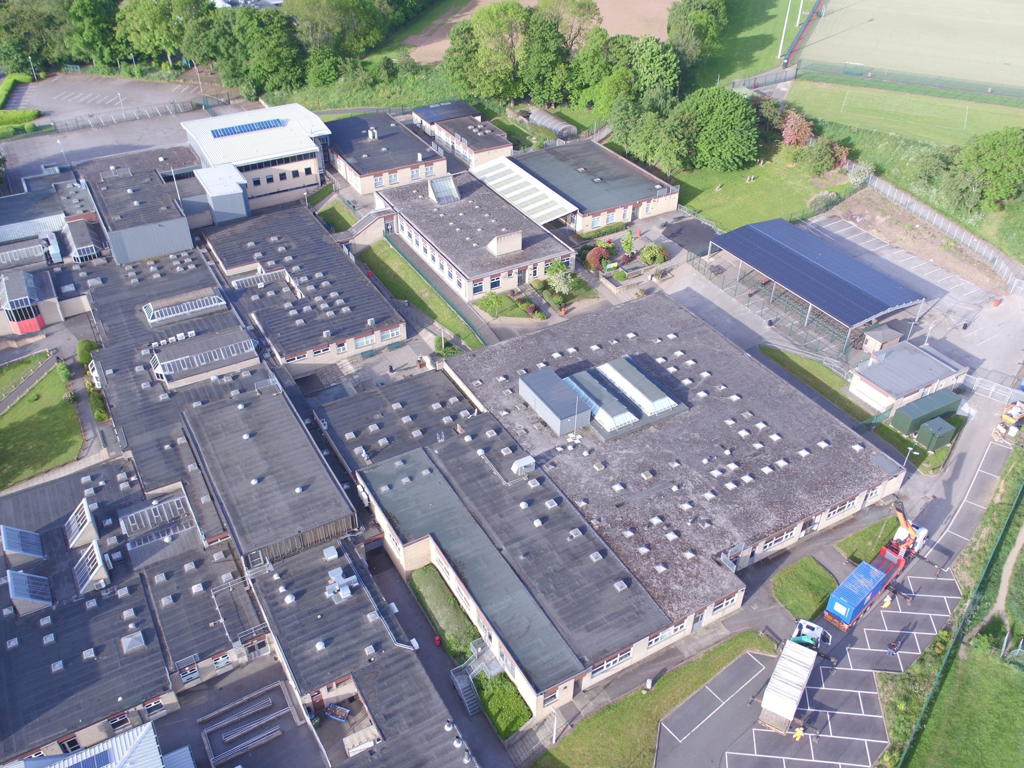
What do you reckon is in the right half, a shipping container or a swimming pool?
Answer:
shipping container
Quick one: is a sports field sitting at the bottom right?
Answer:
No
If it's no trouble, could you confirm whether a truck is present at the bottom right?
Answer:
Yes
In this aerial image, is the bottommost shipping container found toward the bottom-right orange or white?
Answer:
white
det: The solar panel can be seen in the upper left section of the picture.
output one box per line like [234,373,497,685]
[212,120,284,138]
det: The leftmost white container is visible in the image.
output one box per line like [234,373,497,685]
[761,640,817,720]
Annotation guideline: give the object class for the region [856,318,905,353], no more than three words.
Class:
shed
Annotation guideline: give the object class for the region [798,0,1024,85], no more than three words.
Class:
sports field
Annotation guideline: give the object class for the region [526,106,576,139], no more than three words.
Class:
greenhouse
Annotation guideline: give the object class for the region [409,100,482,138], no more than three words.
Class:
building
